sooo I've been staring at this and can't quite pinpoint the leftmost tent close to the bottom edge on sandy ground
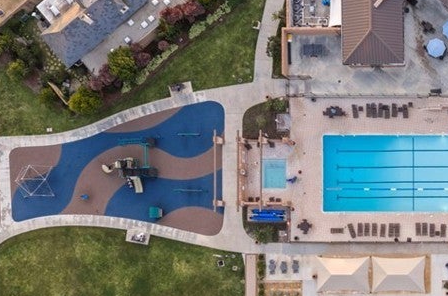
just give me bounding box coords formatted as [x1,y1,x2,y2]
[317,256,372,293]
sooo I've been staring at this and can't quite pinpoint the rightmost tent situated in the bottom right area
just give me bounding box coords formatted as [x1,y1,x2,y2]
[372,256,428,293]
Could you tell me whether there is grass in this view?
Yes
